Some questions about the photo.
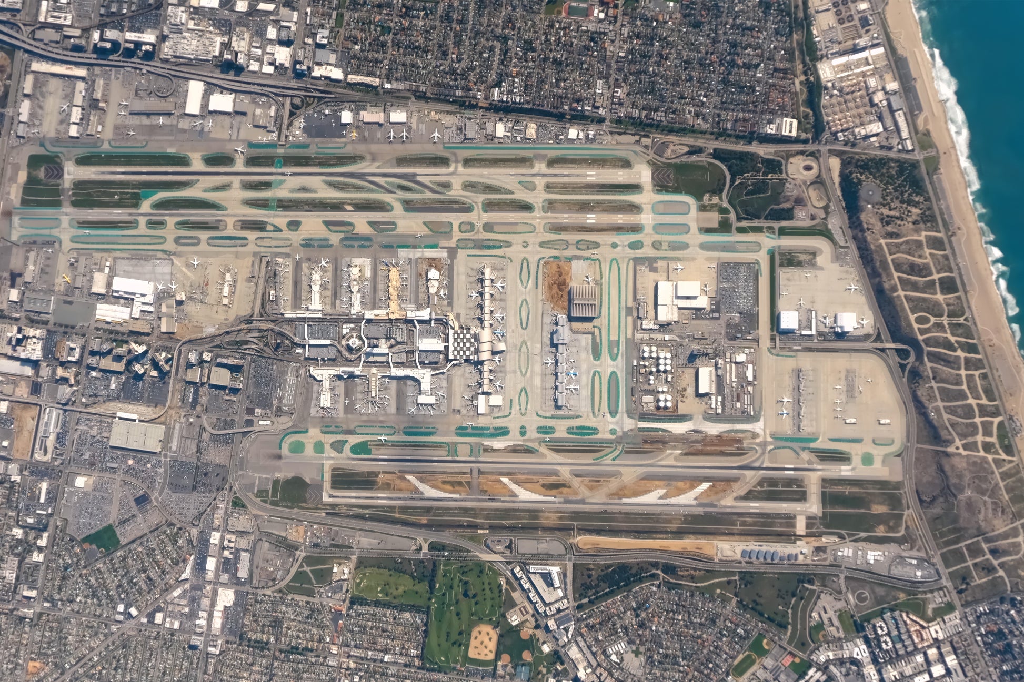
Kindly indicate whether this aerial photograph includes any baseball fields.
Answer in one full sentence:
Yes, I can see a baseball field in this picture.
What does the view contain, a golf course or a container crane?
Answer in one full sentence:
The image shows a golf course.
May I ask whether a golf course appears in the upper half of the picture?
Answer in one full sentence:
No, I see no golf course in the upper half of the picture.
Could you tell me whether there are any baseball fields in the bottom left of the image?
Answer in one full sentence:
Yes, looking in the bottom left of the image, one can make out a baseball field.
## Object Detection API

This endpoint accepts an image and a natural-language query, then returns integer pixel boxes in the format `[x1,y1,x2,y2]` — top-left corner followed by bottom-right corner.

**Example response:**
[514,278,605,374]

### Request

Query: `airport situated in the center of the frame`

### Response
[10,68,906,534]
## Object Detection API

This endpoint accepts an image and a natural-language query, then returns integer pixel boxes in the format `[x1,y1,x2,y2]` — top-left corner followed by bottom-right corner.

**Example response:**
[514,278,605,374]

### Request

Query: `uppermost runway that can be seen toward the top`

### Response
[64,167,651,181]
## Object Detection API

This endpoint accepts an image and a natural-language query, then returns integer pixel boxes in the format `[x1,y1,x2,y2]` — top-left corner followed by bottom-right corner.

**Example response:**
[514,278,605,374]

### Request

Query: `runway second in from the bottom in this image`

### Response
[281,454,889,475]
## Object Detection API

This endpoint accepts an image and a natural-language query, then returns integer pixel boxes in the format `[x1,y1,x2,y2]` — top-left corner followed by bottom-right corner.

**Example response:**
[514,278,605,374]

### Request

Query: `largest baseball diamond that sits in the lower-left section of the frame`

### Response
[81,524,120,554]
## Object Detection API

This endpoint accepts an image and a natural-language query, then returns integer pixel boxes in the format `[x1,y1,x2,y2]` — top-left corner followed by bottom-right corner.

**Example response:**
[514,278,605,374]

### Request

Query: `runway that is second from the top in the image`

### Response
[13,210,697,223]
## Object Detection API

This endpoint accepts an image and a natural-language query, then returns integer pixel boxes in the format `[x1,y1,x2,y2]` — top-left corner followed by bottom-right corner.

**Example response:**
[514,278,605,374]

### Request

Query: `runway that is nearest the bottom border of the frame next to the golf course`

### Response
[323,494,817,515]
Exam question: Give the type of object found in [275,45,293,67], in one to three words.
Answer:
building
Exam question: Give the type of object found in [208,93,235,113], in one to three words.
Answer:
building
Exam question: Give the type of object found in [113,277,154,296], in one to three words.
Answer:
hangar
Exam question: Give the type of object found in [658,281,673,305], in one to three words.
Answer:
hangar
